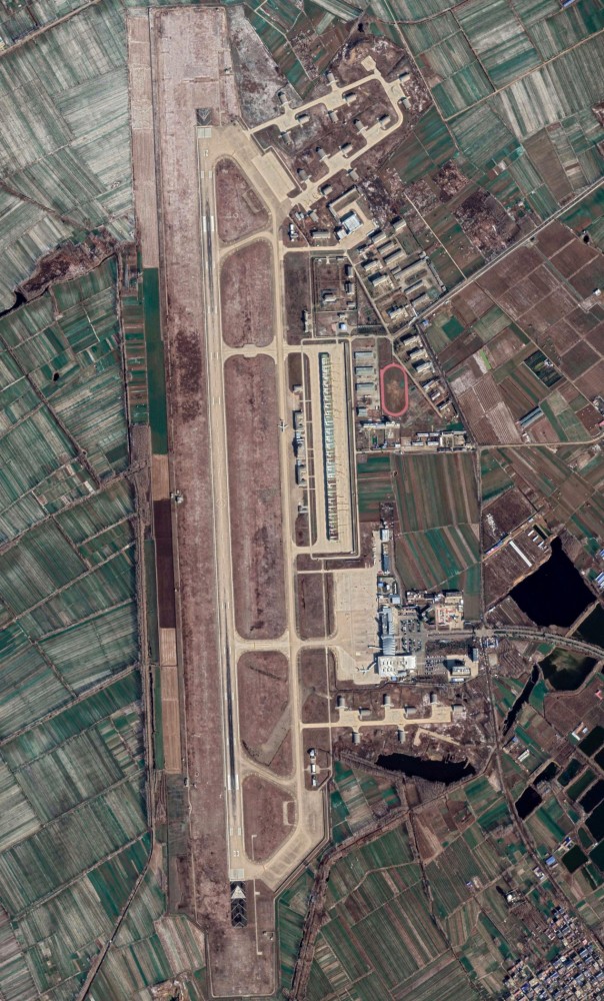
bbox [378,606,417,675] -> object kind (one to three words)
building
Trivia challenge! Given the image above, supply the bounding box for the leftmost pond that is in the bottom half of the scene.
[377,753,476,785]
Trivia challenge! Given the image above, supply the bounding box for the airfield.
[150,7,453,997]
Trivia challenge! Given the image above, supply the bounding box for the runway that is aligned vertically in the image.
[196,127,245,881]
